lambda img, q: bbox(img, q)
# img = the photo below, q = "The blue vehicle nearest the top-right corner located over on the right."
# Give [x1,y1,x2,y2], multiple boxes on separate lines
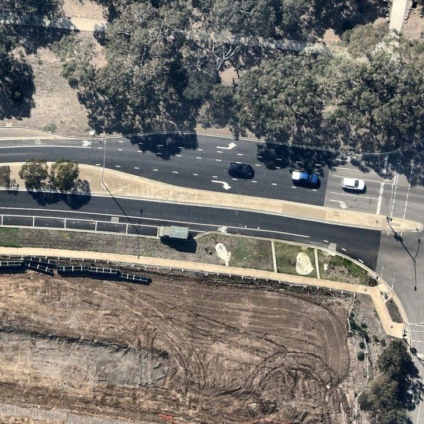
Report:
[290,170,321,185]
